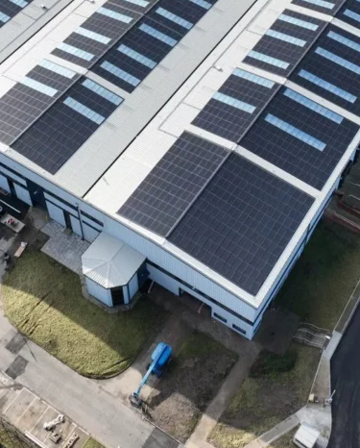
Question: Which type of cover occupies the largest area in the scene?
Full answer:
The scene is dominated by buildings.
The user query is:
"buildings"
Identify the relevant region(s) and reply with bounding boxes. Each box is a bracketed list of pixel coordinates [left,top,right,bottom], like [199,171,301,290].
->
[0,0,360,341]
[289,409,325,448]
